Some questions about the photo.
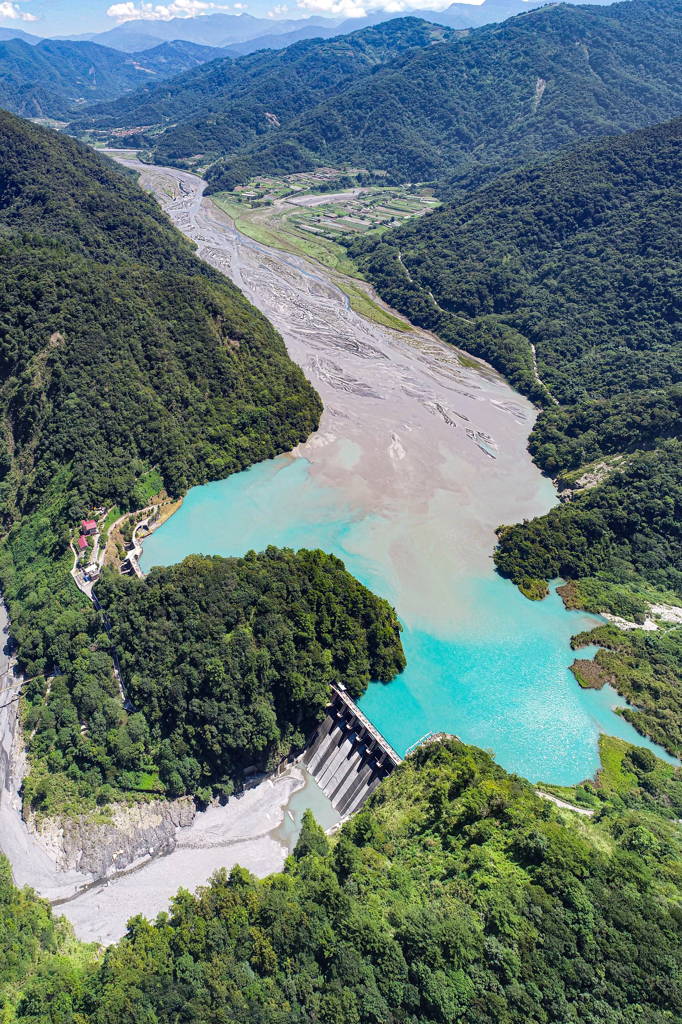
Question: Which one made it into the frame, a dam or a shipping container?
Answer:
dam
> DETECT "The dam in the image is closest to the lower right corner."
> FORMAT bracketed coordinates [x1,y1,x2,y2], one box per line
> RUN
[296,680,407,823]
